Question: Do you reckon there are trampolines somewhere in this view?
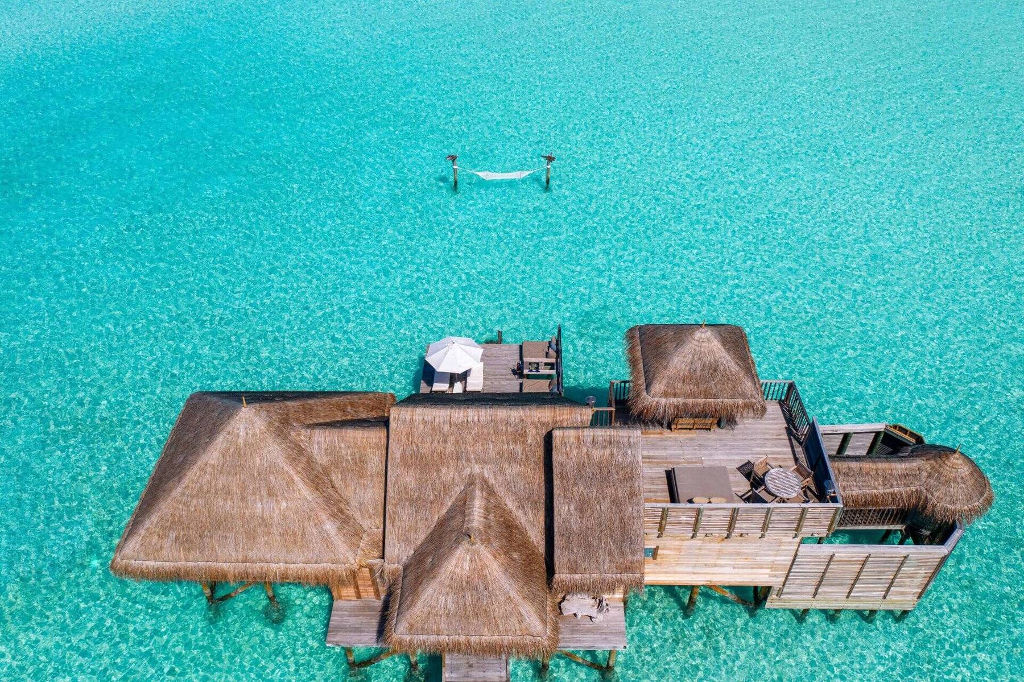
No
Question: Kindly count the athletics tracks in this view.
0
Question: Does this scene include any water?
Yes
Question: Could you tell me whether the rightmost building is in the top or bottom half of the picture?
bottom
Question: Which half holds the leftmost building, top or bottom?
bottom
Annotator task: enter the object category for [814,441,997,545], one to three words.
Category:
building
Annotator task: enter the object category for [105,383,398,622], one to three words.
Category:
building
